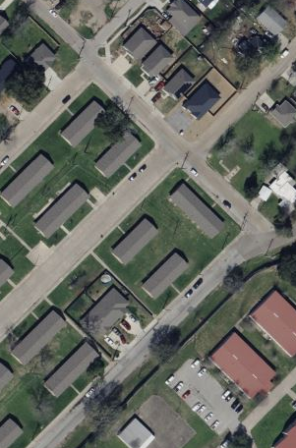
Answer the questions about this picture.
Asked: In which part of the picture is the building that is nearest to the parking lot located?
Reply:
bottom right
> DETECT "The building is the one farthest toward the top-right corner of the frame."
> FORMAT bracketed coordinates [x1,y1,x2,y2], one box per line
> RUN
[257,6,286,35]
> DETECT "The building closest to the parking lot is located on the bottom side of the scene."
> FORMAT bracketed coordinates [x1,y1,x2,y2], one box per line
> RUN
[211,332,274,398]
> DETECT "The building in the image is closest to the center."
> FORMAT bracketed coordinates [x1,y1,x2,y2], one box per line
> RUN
[112,217,157,263]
